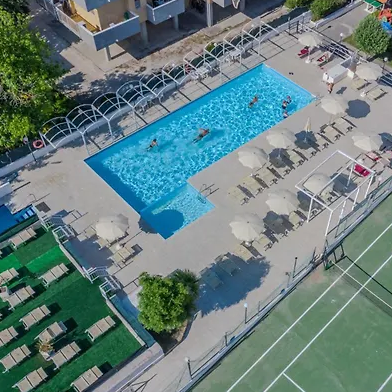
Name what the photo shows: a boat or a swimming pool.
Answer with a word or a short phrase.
swimming pool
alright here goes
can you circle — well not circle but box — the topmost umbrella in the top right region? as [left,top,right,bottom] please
[297,34,322,63]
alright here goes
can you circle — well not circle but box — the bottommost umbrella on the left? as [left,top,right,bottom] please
[95,216,132,252]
